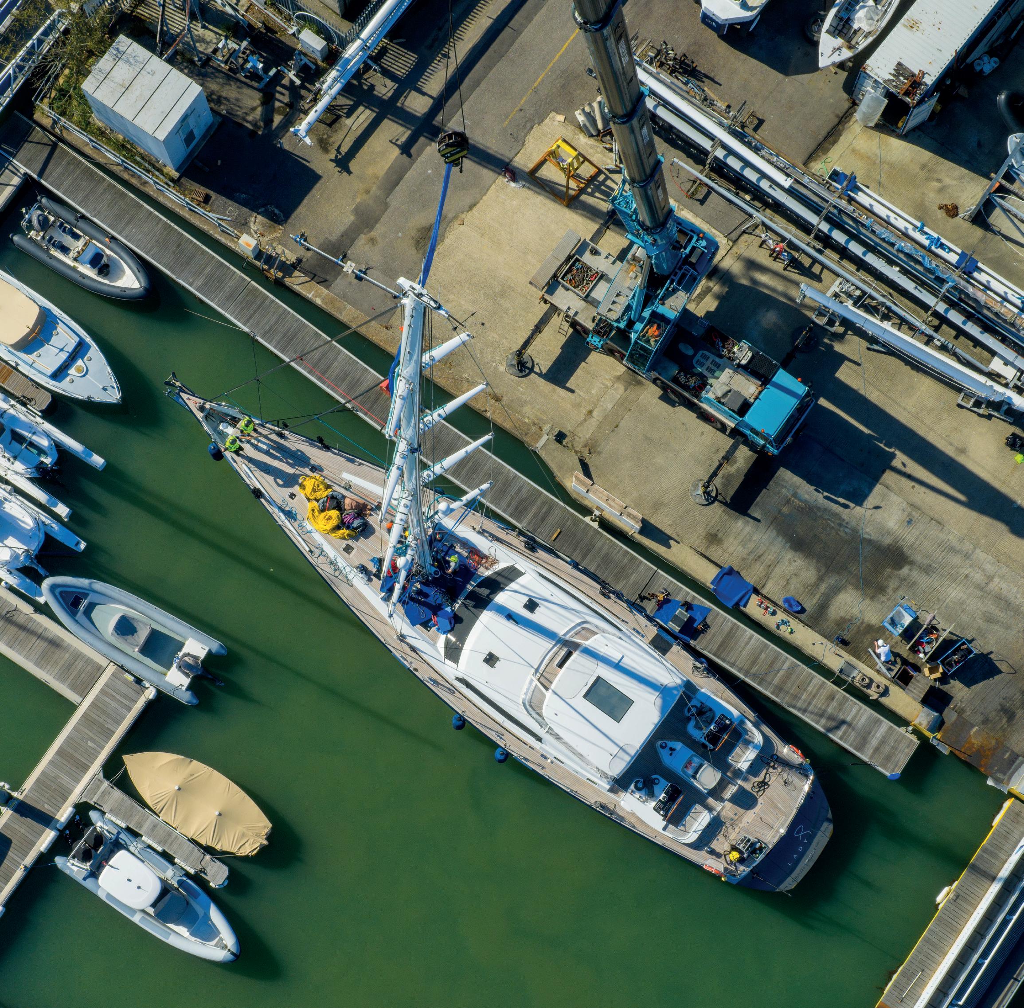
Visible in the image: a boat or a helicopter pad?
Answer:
boat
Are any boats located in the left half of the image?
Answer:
Yes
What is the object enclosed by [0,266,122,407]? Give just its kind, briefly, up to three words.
boat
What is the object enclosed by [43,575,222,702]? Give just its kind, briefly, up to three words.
boat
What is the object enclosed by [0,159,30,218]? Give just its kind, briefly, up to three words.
pier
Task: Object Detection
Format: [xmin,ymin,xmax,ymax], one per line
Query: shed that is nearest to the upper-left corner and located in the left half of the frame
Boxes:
[81,35,221,176]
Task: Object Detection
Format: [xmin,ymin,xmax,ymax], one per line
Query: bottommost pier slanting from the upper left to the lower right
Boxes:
[77,768,230,890]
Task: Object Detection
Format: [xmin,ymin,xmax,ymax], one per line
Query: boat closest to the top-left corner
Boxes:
[15,198,153,301]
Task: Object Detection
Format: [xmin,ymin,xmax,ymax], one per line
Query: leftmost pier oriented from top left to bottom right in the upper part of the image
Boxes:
[0,361,54,412]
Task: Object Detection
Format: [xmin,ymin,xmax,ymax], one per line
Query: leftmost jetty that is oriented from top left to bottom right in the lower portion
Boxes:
[0,579,110,707]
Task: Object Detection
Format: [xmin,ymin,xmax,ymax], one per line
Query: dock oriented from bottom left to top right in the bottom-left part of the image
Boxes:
[0,661,151,918]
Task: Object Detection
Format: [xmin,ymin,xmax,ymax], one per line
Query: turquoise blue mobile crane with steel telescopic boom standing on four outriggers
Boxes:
[506,0,825,502]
